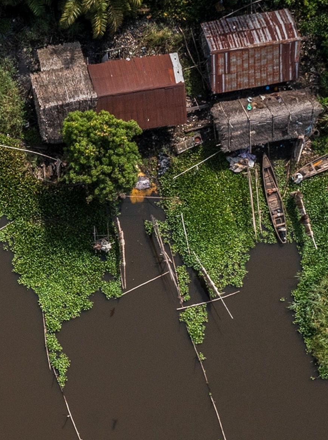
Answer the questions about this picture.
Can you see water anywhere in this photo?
Yes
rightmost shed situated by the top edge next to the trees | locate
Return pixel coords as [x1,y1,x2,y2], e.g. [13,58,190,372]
[193,8,300,100]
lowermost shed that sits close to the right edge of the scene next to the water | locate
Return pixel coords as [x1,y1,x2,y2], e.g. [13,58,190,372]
[208,88,324,155]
